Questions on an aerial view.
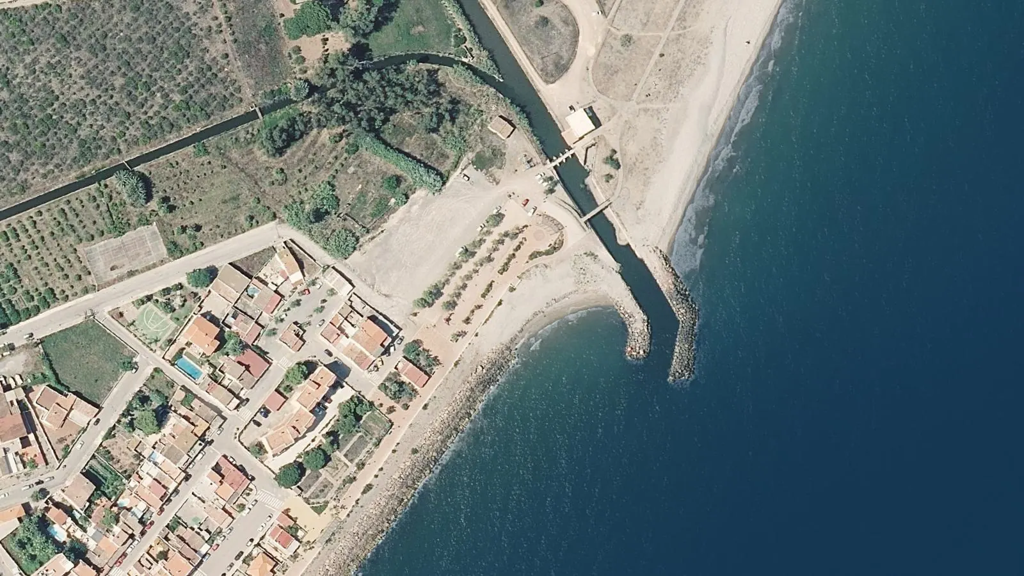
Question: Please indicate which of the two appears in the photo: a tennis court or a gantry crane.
tennis court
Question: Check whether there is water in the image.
Yes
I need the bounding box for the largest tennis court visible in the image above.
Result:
[85,224,166,285]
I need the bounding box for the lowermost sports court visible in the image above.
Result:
[134,303,177,347]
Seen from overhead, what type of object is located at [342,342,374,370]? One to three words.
house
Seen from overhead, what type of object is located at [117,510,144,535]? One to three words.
house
